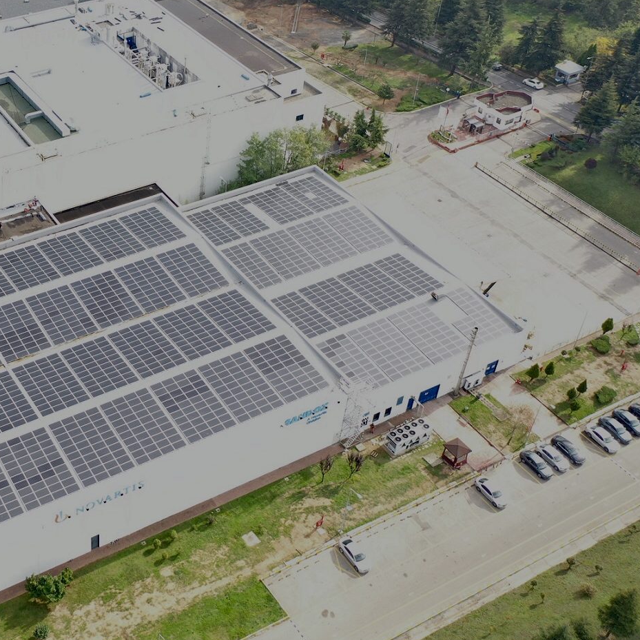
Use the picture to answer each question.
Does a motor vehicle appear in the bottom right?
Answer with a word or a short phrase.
Yes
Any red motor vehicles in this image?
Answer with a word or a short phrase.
No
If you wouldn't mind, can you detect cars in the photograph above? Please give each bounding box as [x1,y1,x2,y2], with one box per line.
[613,407,640,436]
[583,425,619,454]
[522,78,544,90]
[473,478,509,510]
[518,450,554,481]
[598,416,634,444]
[337,540,373,576]
[627,400,640,417]
[534,444,570,474]
[549,436,586,466]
